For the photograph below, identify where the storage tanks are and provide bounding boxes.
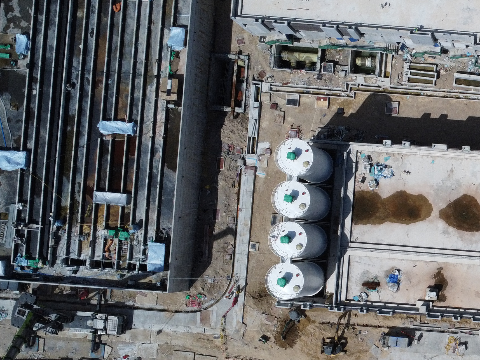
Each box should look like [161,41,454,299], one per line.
[271,138,332,181]
[265,221,326,263]
[261,260,323,304]
[268,181,329,221]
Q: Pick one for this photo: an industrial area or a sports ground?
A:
industrial area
